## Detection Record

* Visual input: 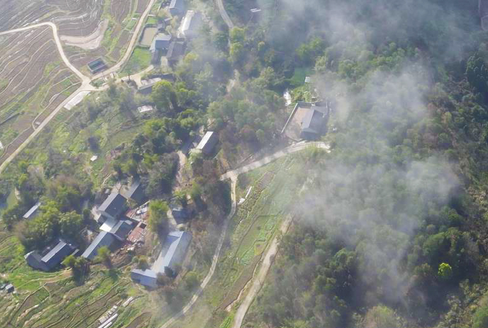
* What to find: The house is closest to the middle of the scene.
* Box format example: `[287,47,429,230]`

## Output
[195,133,221,162]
